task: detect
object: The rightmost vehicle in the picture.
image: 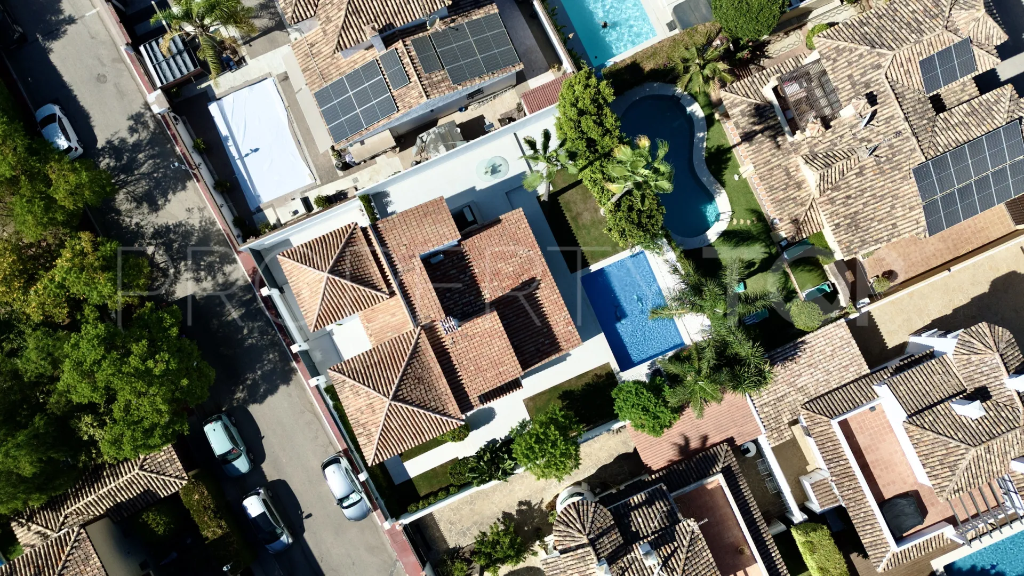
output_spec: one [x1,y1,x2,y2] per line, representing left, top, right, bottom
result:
[321,444,373,515]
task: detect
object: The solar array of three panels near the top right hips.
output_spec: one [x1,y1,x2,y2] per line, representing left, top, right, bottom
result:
[918,38,976,94]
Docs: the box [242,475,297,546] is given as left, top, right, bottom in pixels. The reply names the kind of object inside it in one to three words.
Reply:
car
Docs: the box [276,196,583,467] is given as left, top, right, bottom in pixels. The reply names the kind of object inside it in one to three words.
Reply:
house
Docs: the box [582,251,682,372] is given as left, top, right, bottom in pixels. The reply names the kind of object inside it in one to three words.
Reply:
swimming pool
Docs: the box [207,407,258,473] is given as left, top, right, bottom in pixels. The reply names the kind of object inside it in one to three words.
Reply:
car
